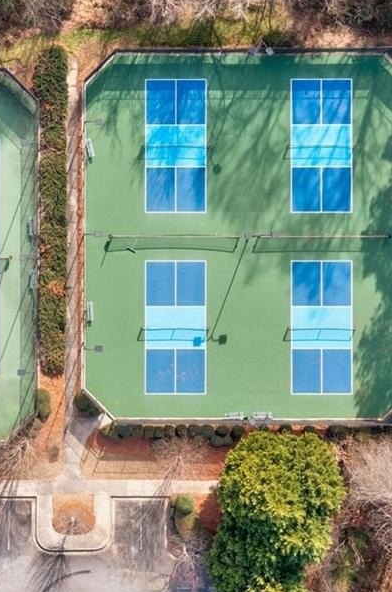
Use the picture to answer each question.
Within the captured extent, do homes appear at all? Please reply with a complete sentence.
No, I can't see a single home in this photo.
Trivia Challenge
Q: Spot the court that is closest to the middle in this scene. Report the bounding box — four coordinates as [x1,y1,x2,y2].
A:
[146,261,207,395]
